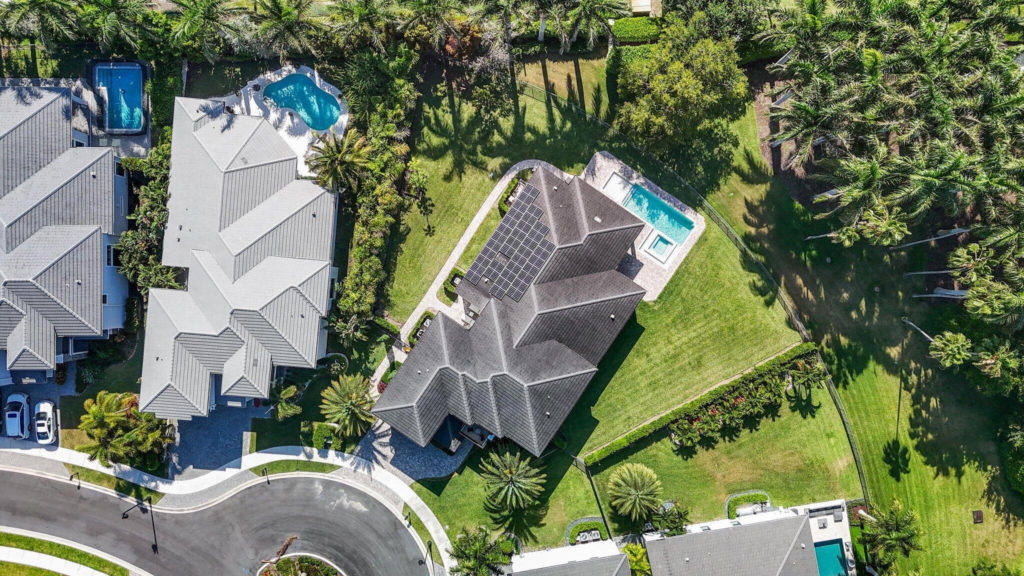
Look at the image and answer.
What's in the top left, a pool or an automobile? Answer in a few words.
pool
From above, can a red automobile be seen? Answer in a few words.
No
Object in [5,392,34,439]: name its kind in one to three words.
car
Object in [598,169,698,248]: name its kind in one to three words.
swimming pool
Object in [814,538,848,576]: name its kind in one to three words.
swimming pool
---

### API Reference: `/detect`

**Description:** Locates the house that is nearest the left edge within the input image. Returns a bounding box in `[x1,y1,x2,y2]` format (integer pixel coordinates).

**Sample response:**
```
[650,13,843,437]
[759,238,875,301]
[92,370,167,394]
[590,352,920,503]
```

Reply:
[0,86,132,383]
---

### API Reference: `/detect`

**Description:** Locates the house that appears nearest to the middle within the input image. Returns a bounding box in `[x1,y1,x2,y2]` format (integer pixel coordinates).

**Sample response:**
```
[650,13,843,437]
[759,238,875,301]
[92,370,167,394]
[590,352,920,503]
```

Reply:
[371,165,647,457]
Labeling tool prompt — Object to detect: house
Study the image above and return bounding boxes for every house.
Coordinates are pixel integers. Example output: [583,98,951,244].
[644,507,820,576]
[507,540,631,576]
[139,95,339,422]
[371,165,647,457]
[0,86,132,383]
